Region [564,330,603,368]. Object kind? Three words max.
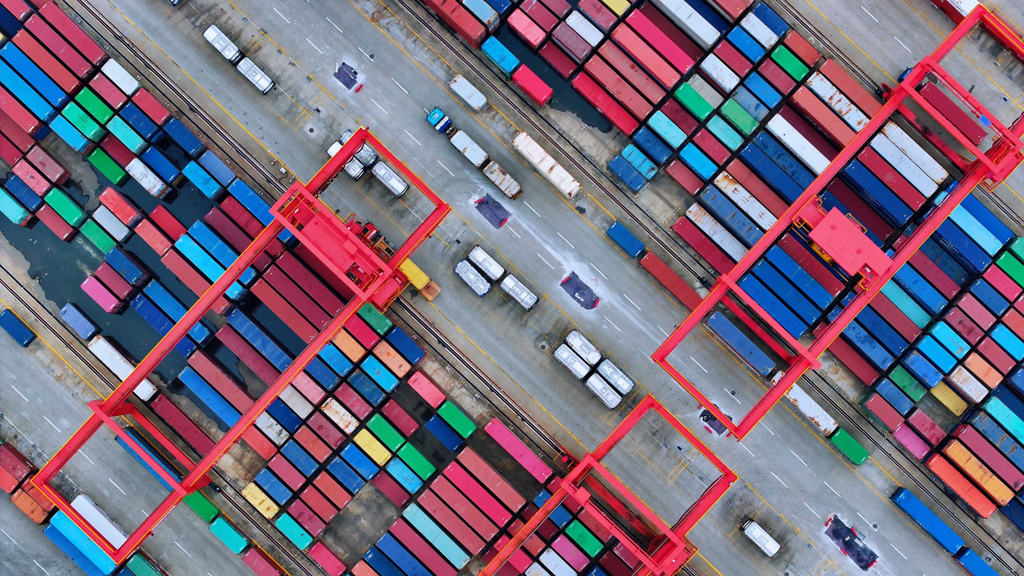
shipping container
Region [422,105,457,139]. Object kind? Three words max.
truck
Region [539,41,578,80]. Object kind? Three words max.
shipping container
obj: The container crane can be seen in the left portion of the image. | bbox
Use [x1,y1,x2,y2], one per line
[28,126,452,565]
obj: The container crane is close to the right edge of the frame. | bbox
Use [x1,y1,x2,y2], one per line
[649,2,1024,442]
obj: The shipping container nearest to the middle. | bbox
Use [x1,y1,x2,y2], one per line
[499,273,538,312]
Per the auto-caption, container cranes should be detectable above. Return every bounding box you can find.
[28,126,452,565]
[649,2,1024,442]
[478,393,739,576]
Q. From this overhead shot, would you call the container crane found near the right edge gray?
No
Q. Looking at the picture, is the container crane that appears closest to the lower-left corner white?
No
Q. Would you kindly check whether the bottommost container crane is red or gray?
red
